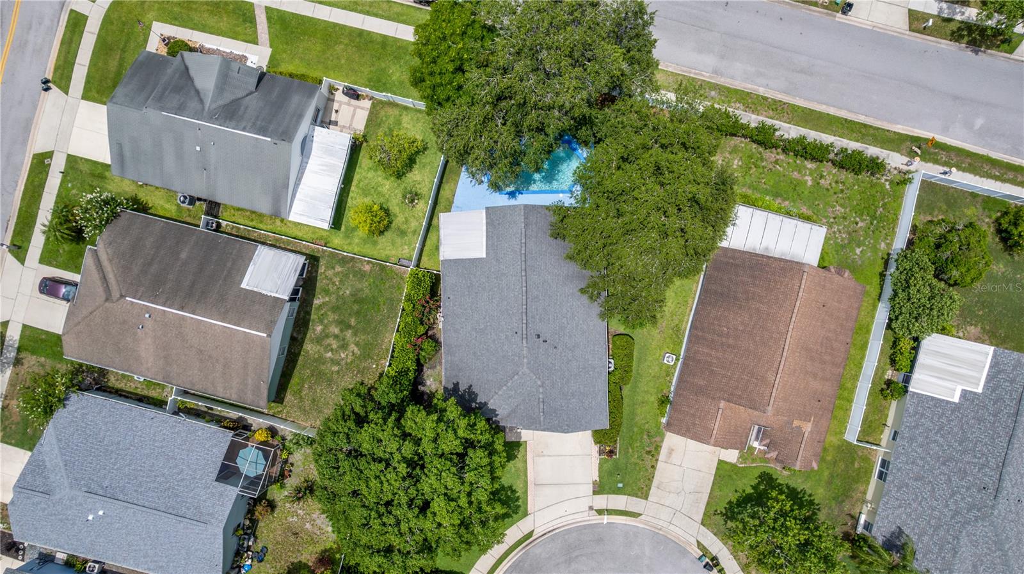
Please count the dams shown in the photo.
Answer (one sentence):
No dams are visible.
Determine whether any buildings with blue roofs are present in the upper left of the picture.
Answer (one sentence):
No, there's no building with a blue roof to be seen in the upper left of the picture.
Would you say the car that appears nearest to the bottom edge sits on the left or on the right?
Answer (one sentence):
The car that appears nearest to the bottom edge is on the left side of the image.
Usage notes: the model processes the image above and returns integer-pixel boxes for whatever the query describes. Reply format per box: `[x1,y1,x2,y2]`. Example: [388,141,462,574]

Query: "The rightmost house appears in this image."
[860,333,1024,574]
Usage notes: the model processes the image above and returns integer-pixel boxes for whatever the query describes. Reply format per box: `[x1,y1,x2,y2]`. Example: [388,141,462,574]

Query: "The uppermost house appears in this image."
[106,50,355,228]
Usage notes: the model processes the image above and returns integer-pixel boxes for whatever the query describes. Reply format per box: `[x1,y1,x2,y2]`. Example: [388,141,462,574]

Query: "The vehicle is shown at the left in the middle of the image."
[37,277,79,307]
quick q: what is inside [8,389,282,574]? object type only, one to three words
house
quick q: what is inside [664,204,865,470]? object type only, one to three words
house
